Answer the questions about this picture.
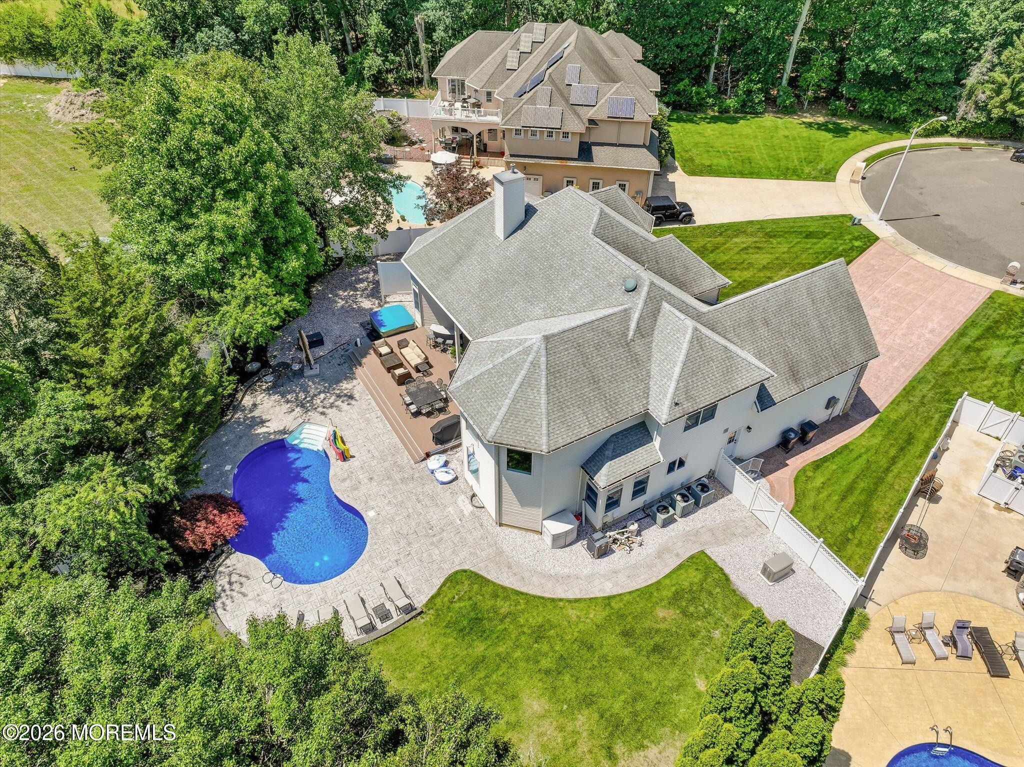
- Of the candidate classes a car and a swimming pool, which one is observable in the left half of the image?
swimming pool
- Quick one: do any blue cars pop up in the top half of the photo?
No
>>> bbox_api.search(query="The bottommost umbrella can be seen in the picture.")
[294,332,318,374]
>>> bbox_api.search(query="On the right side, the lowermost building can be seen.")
[400,162,881,532]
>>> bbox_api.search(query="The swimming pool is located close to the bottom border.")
[885,740,1009,767]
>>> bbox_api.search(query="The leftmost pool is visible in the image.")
[228,421,368,585]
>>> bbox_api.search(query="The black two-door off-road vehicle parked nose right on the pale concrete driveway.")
[643,191,697,222]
